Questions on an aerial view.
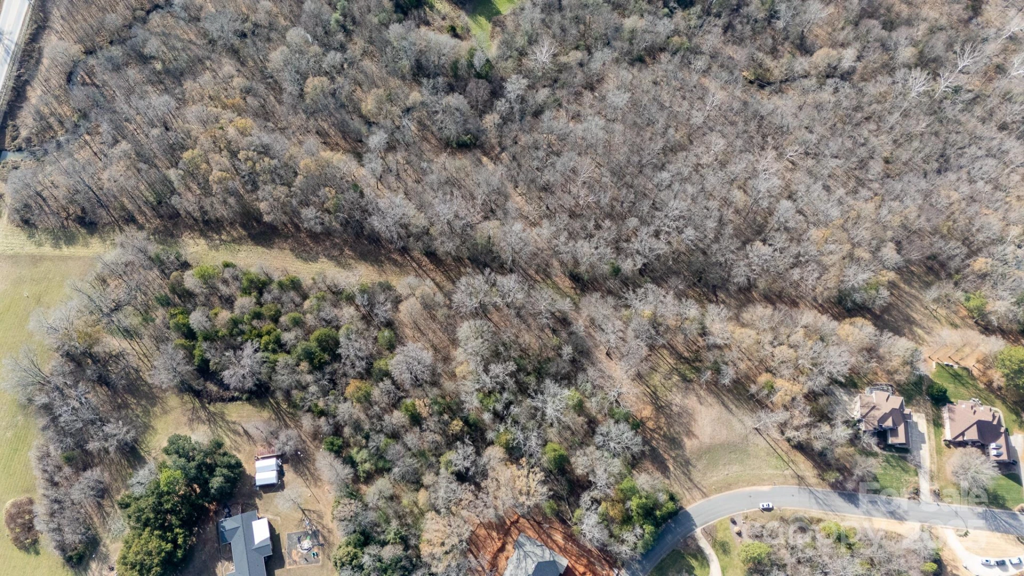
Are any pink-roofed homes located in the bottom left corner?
No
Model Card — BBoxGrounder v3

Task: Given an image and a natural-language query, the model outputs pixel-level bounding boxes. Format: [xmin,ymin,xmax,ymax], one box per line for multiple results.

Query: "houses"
[942,400,1011,464]
[219,510,274,576]
[854,391,912,450]
[503,533,568,576]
